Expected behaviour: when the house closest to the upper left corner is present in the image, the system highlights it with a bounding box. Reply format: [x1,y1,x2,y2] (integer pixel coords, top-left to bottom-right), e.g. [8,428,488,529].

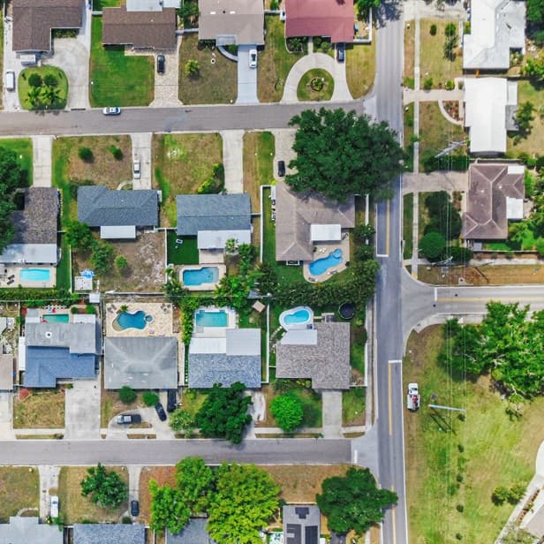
[12,0,85,66]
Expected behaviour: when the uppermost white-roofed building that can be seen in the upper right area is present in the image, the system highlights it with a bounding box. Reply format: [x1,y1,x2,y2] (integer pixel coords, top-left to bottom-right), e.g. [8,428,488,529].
[460,0,526,69]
